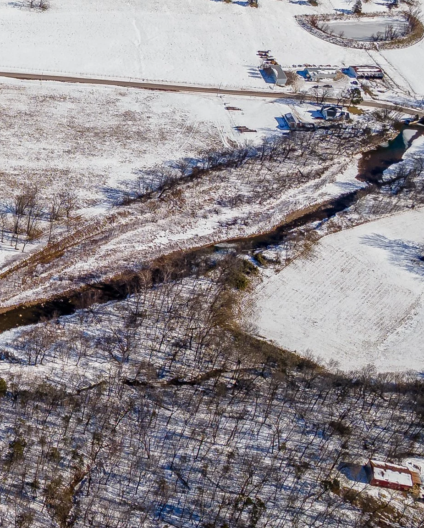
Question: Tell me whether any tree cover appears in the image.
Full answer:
Yes, some tree cover is visible.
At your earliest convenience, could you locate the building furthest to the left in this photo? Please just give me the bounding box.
[268,63,291,85]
